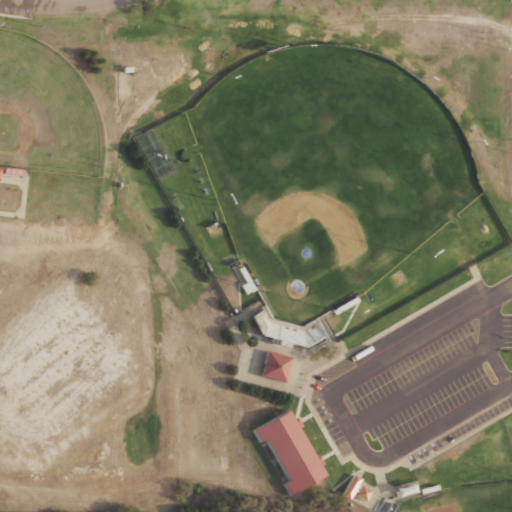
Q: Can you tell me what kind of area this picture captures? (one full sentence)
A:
The picture captures a sports ground.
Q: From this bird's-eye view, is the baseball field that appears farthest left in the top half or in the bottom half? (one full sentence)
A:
The baseball field that appears farthest left is in the top half of the image.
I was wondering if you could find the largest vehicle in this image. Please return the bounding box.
[350,346,376,362]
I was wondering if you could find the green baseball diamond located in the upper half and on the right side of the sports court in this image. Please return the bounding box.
[188,44,482,326]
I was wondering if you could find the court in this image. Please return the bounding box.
[134,129,178,180]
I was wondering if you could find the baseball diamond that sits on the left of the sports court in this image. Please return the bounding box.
[0,28,106,179]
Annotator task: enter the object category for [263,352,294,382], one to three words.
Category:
building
